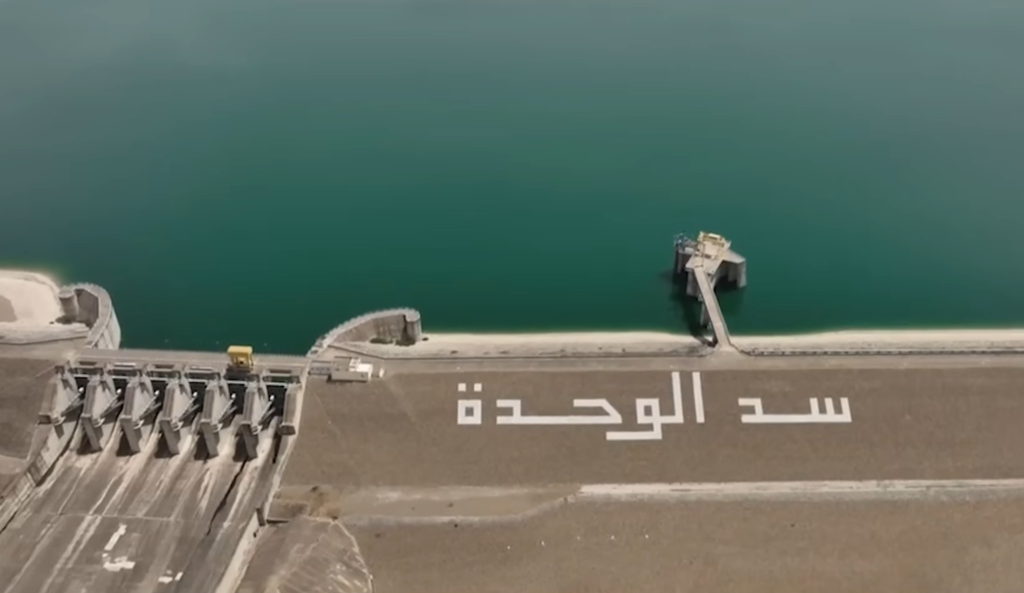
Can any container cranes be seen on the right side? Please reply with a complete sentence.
No, no container crane can be made out on the right side.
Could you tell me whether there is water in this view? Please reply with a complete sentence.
Yes, there's water in this view.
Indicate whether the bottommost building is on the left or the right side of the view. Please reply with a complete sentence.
The bottommost building sits on the left side.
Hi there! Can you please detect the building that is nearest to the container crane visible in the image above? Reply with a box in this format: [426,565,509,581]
[331,358,372,381]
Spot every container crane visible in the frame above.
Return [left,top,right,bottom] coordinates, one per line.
[225,346,257,372]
